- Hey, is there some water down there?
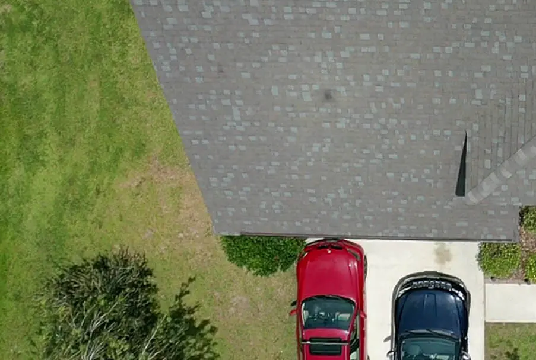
No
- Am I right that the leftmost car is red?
Yes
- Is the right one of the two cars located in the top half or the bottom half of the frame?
bottom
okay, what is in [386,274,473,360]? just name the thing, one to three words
car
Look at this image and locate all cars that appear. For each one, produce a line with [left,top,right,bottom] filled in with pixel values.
[284,240,367,360]
[386,274,473,360]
